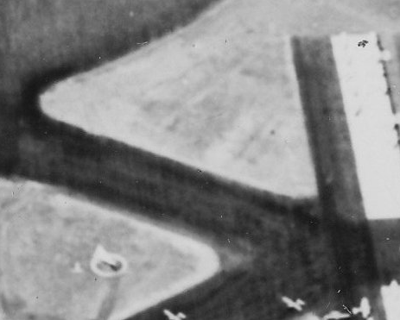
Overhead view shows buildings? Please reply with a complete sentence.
No, there isn't any building down there.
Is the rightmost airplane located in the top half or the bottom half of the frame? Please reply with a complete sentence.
Seen from above, the rightmost airplane lies in the bottom half of the view.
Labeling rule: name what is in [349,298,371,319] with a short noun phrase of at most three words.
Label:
airplane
